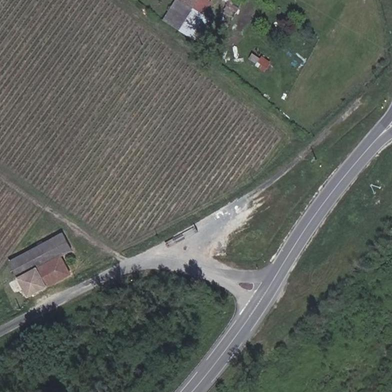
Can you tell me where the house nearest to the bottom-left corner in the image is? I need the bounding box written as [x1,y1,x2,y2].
[10,268,47,298]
